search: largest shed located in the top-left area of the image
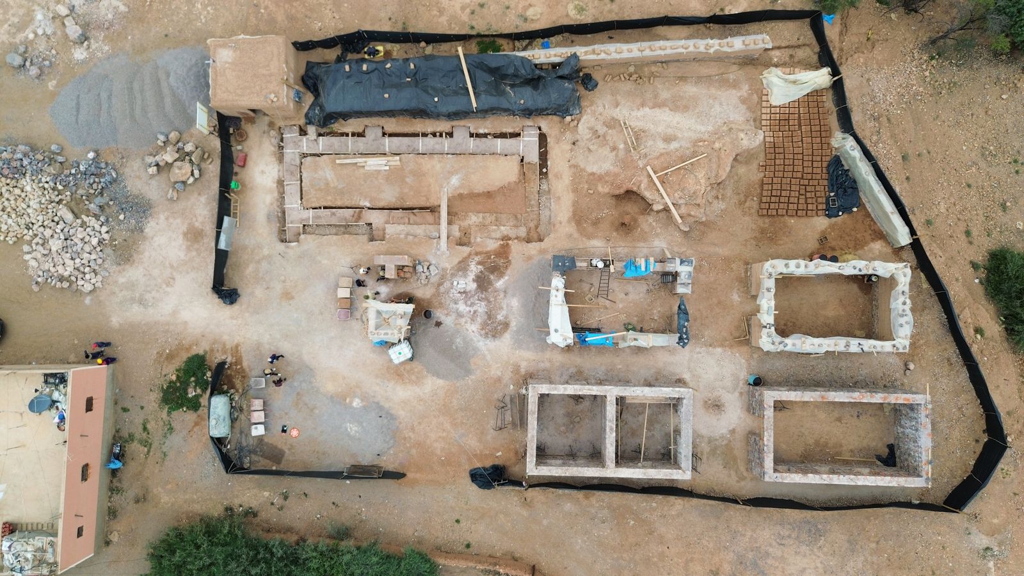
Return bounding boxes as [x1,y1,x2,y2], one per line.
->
[205,34,312,130]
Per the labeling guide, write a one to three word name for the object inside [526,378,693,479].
house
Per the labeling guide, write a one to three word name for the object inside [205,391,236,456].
trailer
